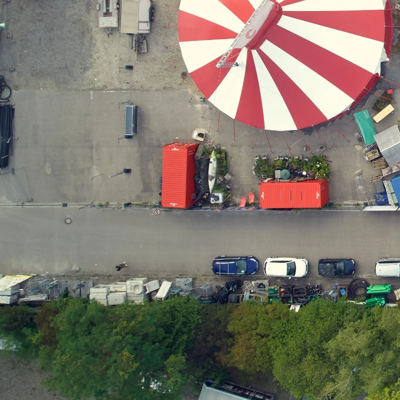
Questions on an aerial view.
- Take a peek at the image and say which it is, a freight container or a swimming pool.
freight container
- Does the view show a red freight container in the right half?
Yes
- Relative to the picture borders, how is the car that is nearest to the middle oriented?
horizontally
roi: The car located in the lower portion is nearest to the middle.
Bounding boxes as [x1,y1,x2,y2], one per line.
[213,255,260,278]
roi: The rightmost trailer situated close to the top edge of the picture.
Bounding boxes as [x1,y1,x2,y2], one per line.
[122,0,162,43]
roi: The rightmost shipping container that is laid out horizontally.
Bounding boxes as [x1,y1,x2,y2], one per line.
[259,179,327,208]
